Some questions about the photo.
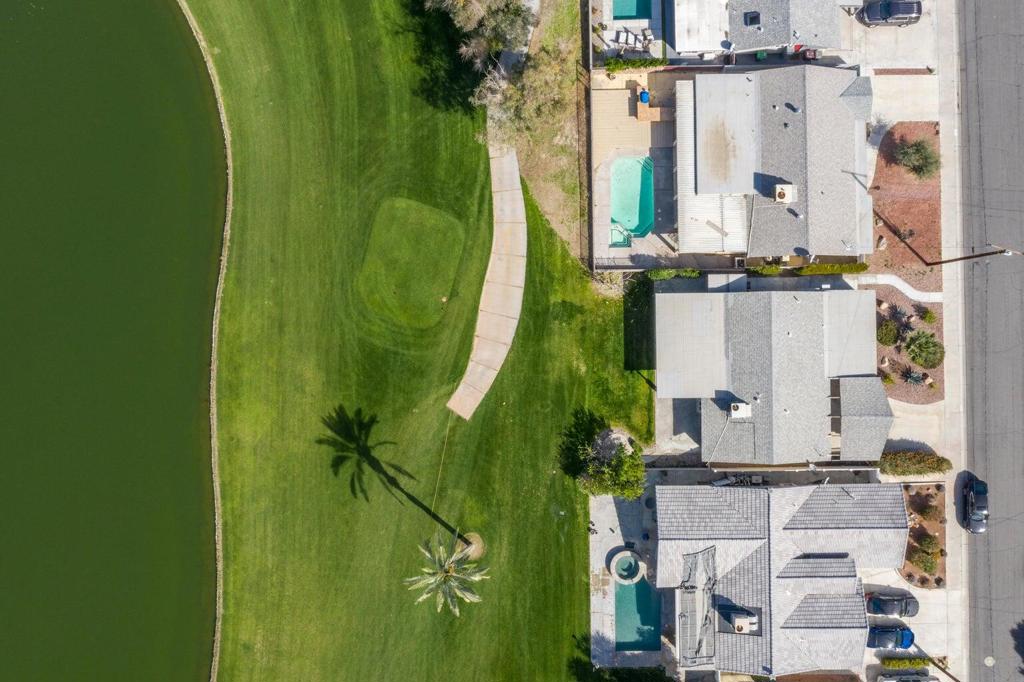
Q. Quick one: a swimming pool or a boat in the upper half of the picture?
swimming pool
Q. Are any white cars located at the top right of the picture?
No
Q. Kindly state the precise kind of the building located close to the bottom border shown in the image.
residential house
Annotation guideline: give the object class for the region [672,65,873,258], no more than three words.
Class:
house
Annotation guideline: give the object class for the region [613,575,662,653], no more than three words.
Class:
swimming pool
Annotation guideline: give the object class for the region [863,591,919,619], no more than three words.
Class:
car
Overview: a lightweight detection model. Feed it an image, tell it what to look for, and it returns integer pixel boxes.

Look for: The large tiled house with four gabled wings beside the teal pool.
[655,484,909,673]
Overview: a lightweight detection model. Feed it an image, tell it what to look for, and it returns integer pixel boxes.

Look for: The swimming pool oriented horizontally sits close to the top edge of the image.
[610,0,656,22]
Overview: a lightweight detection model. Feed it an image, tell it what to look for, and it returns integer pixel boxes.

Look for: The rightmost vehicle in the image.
[962,479,993,534]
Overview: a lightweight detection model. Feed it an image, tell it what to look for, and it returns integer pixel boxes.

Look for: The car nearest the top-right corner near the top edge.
[856,0,920,27]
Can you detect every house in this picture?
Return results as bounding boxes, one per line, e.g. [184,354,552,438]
[675,0,863,54]
[652,291,893,464]
[655,484,909,673]
[672,65,873,258]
